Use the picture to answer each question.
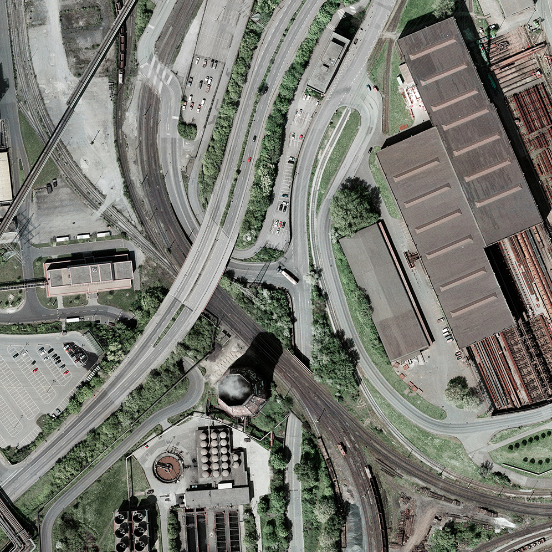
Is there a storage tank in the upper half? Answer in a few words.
No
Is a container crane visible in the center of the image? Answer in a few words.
No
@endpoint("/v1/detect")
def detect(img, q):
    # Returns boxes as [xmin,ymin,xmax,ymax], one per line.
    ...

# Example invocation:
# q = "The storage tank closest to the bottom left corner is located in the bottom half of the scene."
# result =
[153,452,183,483]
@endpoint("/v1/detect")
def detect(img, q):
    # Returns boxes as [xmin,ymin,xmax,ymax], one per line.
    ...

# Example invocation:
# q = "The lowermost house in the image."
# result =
[184,487,250,509]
